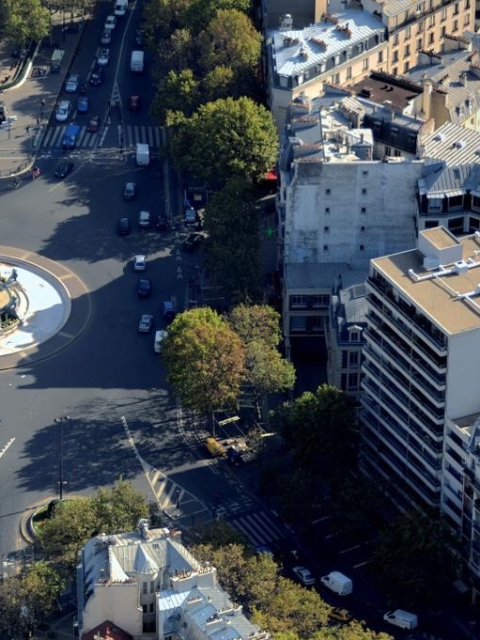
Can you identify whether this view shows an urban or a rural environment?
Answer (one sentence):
The land in this view is best described as urban.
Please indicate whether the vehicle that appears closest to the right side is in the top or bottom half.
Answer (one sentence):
The vehicle that appears closest to the right side sits in the bottom half of the picture.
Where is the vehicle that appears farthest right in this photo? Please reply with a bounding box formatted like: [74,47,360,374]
[384,606,419,630]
